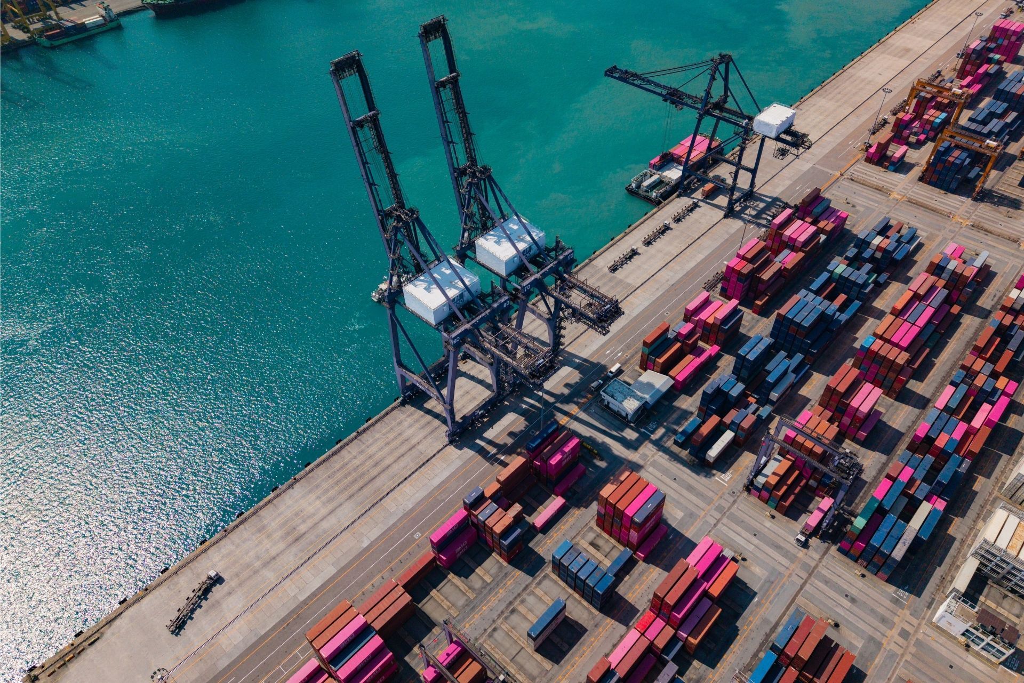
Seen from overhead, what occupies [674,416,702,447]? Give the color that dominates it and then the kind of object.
blue shipping container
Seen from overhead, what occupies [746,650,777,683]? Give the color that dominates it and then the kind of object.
blue shipping container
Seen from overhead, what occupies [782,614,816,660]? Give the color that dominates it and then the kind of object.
red shipping container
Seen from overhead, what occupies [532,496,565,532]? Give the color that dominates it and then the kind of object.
pink shipping container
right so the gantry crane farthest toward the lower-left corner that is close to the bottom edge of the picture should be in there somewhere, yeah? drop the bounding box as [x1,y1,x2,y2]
[408,609,523,683]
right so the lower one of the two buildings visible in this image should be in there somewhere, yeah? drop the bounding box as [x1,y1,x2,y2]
[930,588,1018,669]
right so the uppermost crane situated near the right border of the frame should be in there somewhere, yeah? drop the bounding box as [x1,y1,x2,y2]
[893,73,974,143]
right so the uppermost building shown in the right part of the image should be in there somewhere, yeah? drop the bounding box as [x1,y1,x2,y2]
[598,368,675,425]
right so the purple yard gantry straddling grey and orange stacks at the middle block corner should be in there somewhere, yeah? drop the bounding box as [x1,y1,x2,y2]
[741,409,871,540]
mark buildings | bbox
[598,368,675,425]
[930,588,1018,669]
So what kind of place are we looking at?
port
